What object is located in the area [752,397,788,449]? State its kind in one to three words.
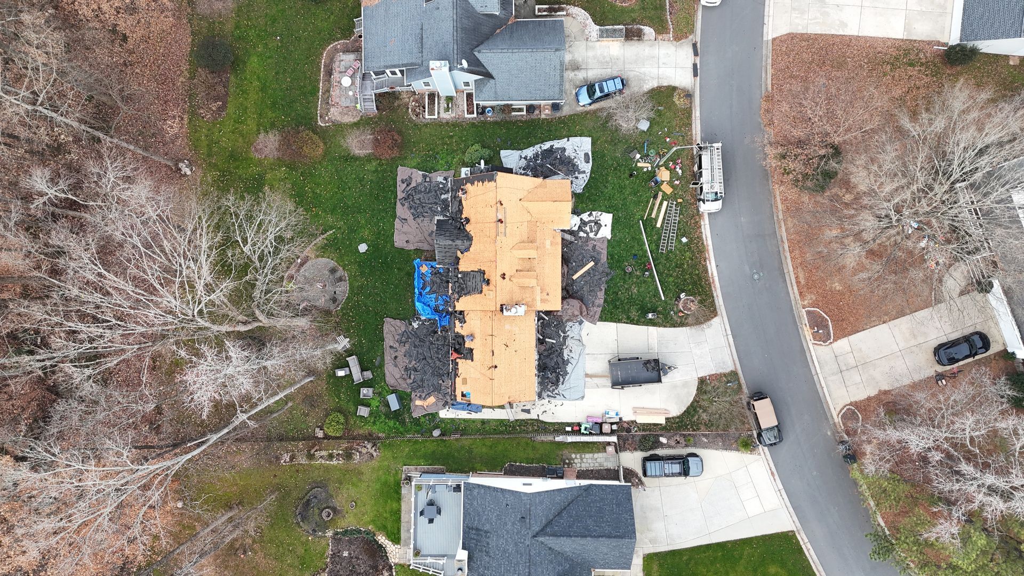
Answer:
vehicle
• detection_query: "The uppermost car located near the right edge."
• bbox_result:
[935,332,996,367]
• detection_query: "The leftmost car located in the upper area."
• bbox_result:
[575,72,629,106]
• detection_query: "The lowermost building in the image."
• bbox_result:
[455,476,636,576]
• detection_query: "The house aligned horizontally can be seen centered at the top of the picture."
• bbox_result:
[361,0,566,106]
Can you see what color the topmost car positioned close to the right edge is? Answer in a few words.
black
